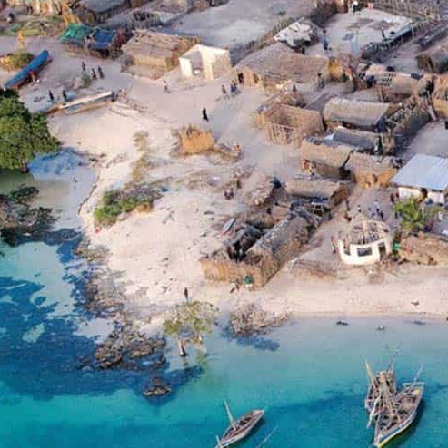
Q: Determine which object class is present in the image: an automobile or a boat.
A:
boat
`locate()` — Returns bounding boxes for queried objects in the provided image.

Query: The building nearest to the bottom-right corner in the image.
[337,218,394,263]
